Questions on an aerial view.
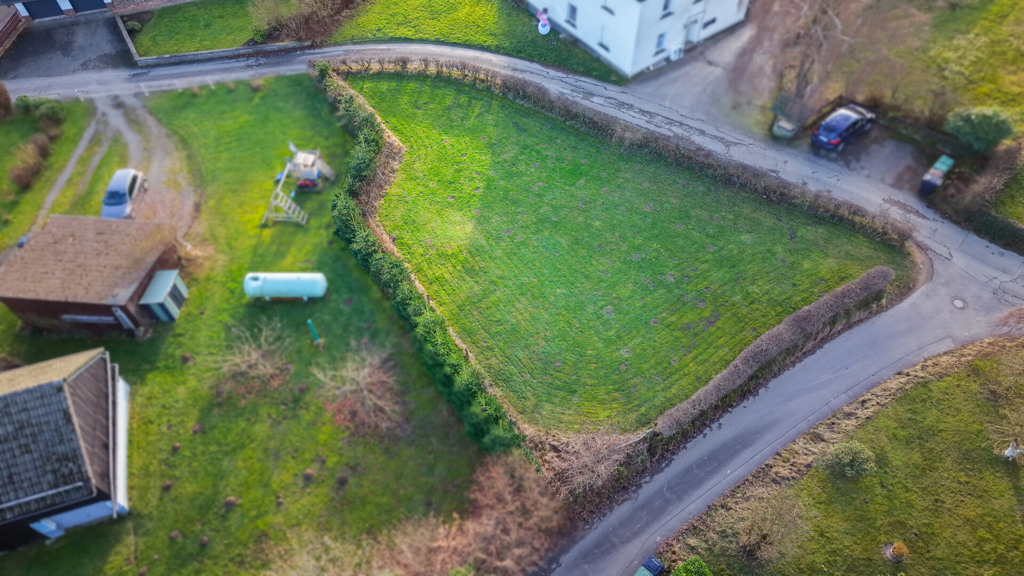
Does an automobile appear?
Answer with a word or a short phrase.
Yes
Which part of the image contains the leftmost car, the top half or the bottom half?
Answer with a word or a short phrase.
top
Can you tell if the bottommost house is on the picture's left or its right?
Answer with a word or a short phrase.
left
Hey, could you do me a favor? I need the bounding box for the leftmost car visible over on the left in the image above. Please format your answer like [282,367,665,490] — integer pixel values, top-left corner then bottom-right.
[93,170,144,214]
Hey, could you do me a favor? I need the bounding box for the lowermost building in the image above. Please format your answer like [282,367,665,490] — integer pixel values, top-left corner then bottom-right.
[0,347,129,550]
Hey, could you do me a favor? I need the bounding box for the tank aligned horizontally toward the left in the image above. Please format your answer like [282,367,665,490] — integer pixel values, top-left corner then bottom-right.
[243,275,327,304]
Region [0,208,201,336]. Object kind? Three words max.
shed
